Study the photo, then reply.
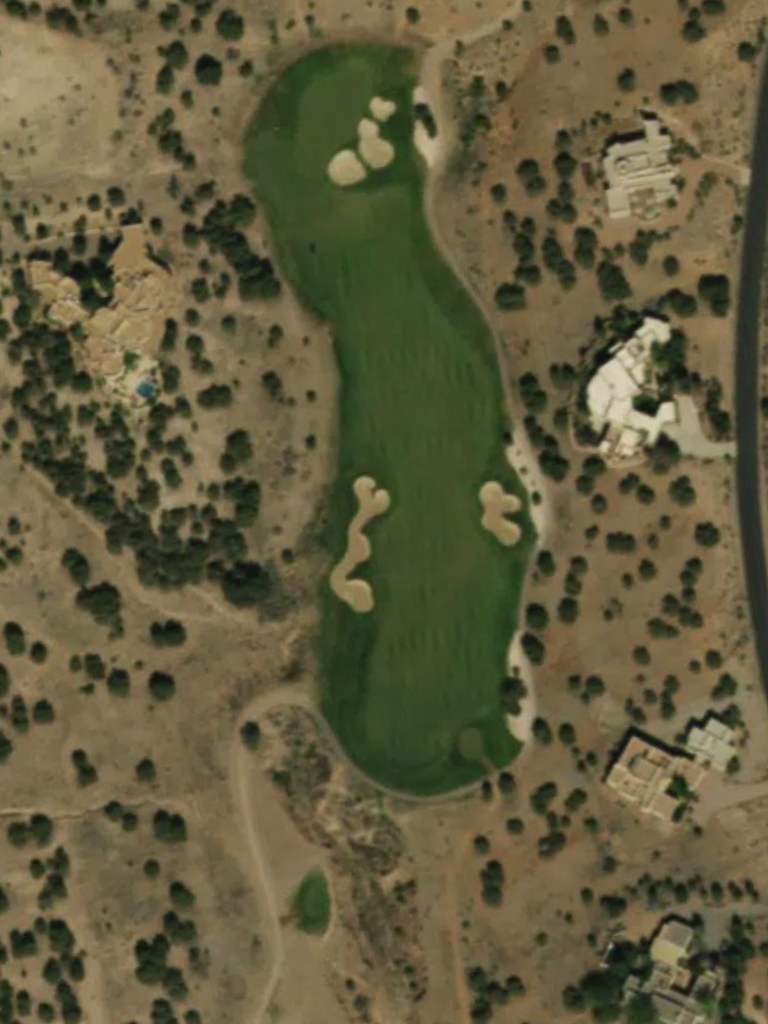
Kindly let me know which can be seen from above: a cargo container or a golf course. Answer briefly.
golf course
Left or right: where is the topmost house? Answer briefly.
right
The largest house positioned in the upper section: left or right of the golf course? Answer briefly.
to the left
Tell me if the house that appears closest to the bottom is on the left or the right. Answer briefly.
right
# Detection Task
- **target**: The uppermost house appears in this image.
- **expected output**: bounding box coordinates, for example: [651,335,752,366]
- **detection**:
[603,119,679,222]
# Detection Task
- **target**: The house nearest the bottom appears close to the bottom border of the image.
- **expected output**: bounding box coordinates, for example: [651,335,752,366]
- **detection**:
[620,922,722,1024]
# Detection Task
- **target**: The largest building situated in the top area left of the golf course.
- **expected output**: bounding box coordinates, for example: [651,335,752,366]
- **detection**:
[28,255,173,406]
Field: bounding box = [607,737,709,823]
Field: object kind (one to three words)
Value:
house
